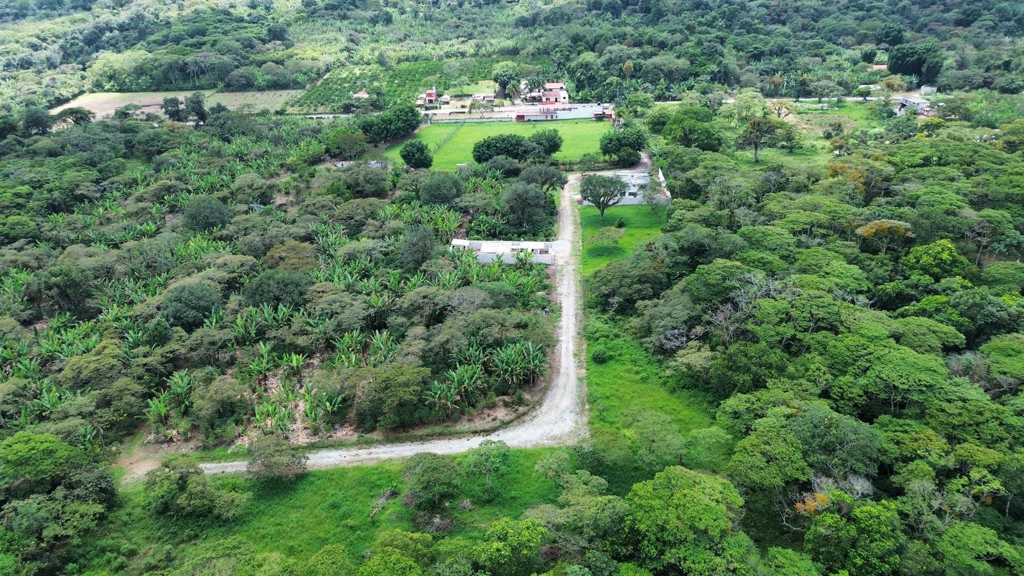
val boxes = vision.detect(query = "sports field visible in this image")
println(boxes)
[370,118,621,176]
